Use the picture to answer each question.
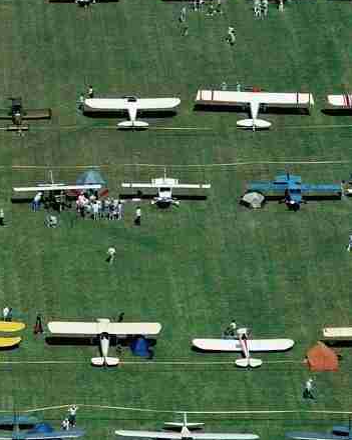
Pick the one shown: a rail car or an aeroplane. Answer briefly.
aeroplane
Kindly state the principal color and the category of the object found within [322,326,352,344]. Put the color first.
white airplane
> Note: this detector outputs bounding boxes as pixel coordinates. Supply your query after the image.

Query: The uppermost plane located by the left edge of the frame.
[0,100,53,134]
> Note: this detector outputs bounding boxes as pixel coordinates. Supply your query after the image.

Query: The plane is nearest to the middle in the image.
[122,170,211,209]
